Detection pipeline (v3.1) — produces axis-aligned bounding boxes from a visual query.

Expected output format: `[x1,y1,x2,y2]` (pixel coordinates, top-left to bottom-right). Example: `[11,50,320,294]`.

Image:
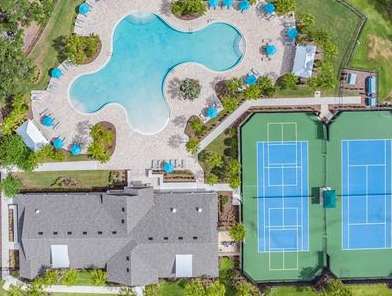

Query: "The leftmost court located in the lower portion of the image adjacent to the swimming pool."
[241,113,327,280]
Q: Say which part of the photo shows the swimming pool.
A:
top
